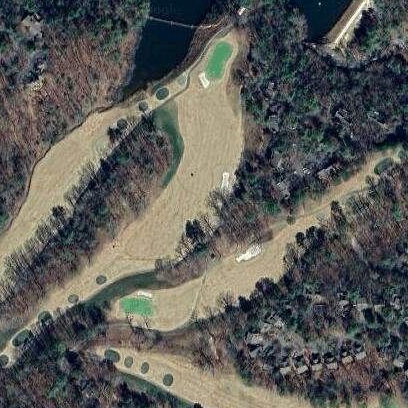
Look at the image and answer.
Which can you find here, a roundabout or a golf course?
golf course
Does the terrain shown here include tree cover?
Yes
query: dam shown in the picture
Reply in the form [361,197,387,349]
[317,0,375,53]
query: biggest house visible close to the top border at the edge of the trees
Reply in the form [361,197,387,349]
[21,14,42,40]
